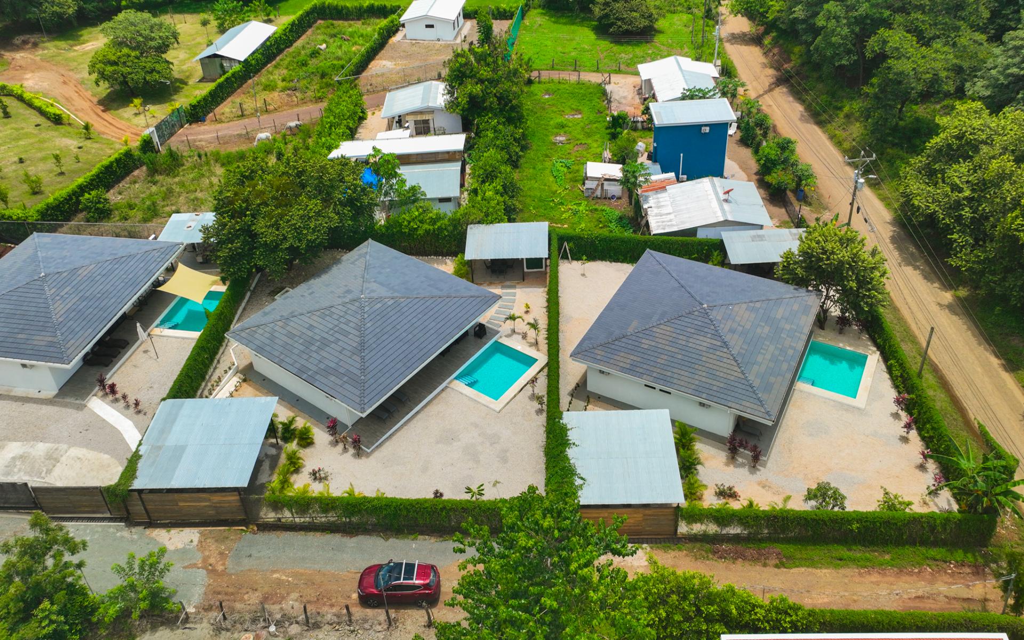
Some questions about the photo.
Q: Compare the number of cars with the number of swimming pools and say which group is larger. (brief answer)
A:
swimming pools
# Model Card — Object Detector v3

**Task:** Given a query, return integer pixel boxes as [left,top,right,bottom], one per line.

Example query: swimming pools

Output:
[798,334,878,408]
[150,285,234,338]
[446,336,548,411]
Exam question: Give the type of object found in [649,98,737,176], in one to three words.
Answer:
building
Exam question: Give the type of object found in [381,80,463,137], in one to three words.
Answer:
house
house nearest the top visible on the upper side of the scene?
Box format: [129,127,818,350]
[399,0,465,38]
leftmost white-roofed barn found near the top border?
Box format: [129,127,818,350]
[193,20,278,81]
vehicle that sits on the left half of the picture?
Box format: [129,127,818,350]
[356,559,440,605]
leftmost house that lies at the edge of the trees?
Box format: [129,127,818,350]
[0,228,183,403]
